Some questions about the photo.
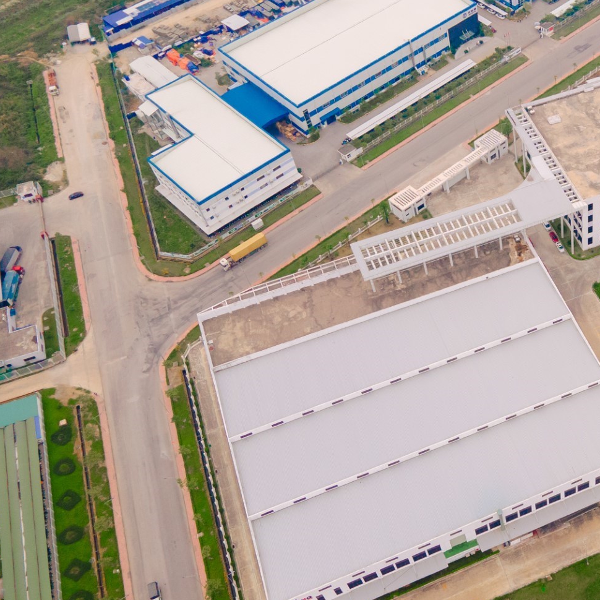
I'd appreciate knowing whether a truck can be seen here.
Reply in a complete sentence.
Yes, you can see a truck in this photo.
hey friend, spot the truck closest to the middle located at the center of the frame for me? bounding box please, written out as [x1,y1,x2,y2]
[217,236,273,275]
